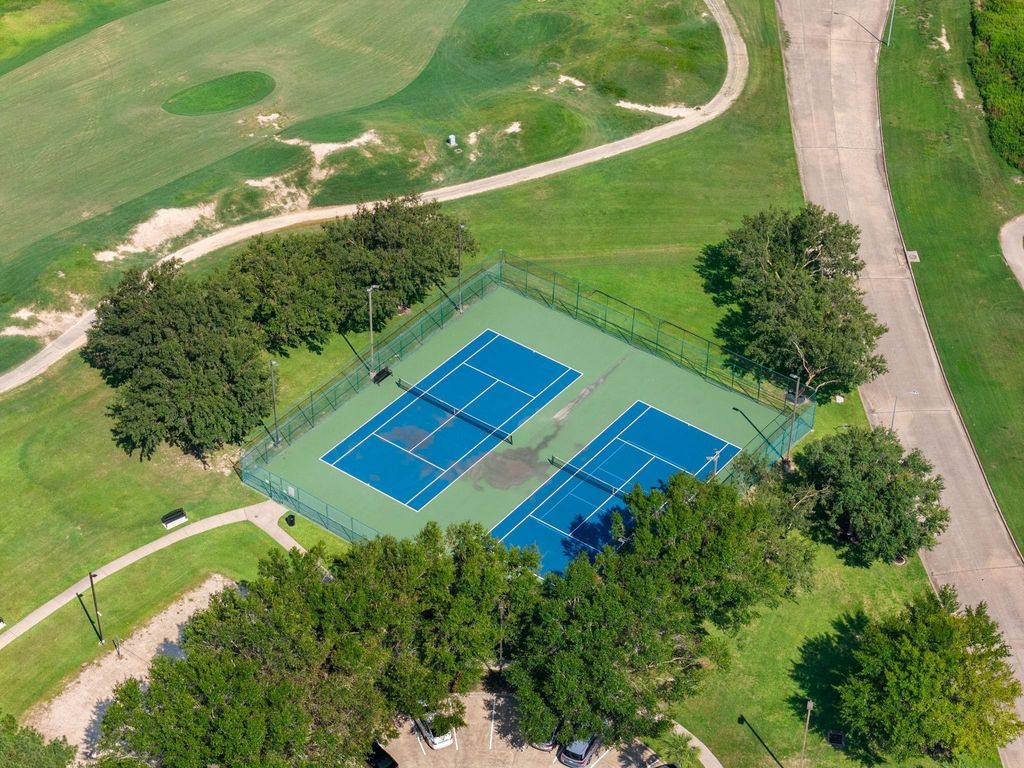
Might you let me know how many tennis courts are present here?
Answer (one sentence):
The count of tennis courts comes to 2.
